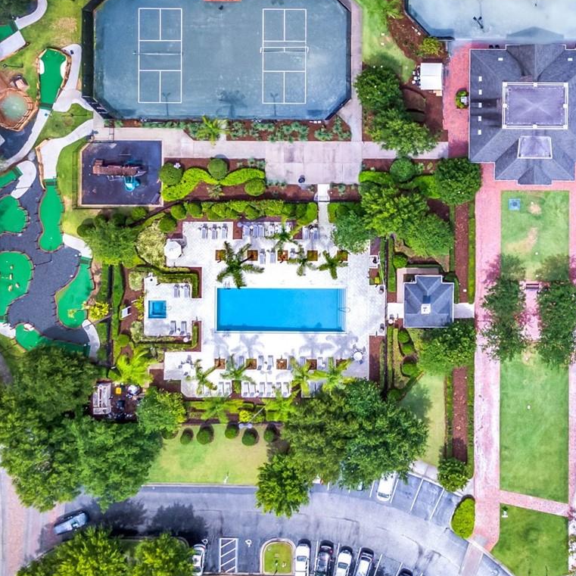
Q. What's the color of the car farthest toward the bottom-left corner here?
blue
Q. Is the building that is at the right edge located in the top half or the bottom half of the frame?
top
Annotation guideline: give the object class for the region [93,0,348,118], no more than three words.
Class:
sports court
